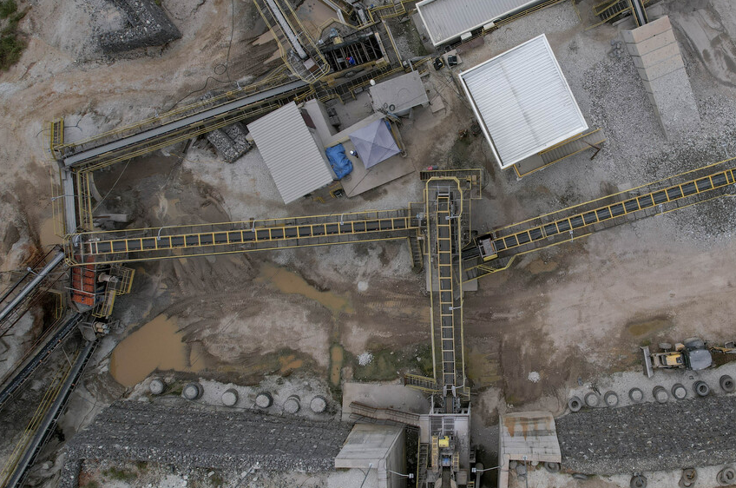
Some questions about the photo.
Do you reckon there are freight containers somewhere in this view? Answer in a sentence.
No, I can't see a single freight container in this photo.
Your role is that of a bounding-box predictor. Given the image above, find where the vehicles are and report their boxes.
[641,337,736,377]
